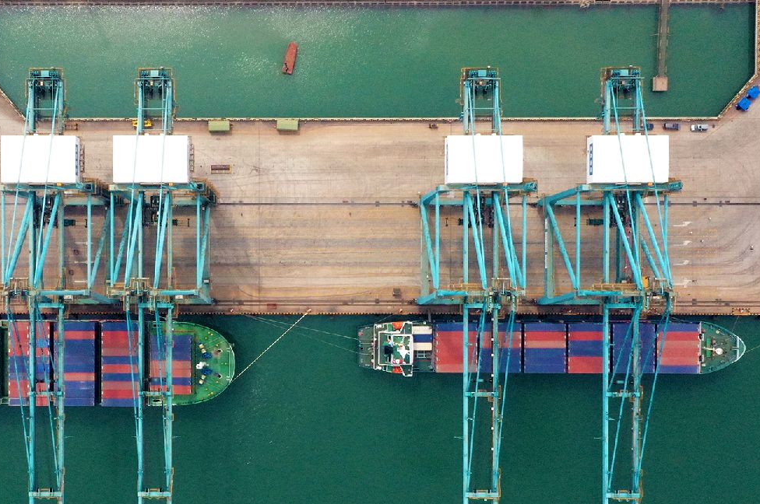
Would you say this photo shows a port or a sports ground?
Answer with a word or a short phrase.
port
